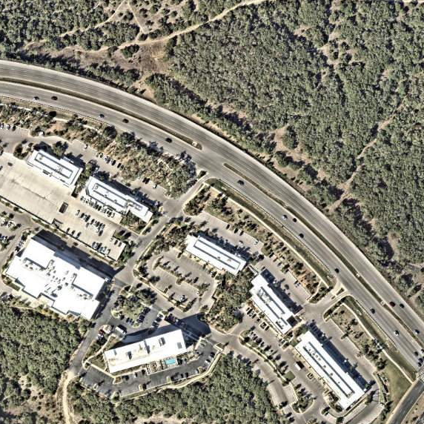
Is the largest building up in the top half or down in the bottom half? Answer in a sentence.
The largest building sits in the bottom half of the picture.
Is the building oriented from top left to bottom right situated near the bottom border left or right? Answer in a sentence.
You can find the building oriented from top left to bottom right situated near the bottom border on the right side of the picture.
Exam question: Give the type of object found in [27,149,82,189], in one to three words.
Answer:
building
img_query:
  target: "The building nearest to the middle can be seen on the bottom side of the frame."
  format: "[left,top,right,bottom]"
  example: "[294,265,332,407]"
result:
[183,235,247,276]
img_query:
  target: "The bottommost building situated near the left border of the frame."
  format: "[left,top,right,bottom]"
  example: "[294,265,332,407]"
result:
[6,239,108,320]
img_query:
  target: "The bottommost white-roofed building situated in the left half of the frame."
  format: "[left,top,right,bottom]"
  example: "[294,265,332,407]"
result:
[103,330,187,373]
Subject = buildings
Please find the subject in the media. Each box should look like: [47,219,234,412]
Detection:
[85,176,154,224]
[250,273,293,335]
[183,235,247,276]
[6,239,108,320]
[27,149,82,189]
[103,330,187,373]
[294,331,365,410]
